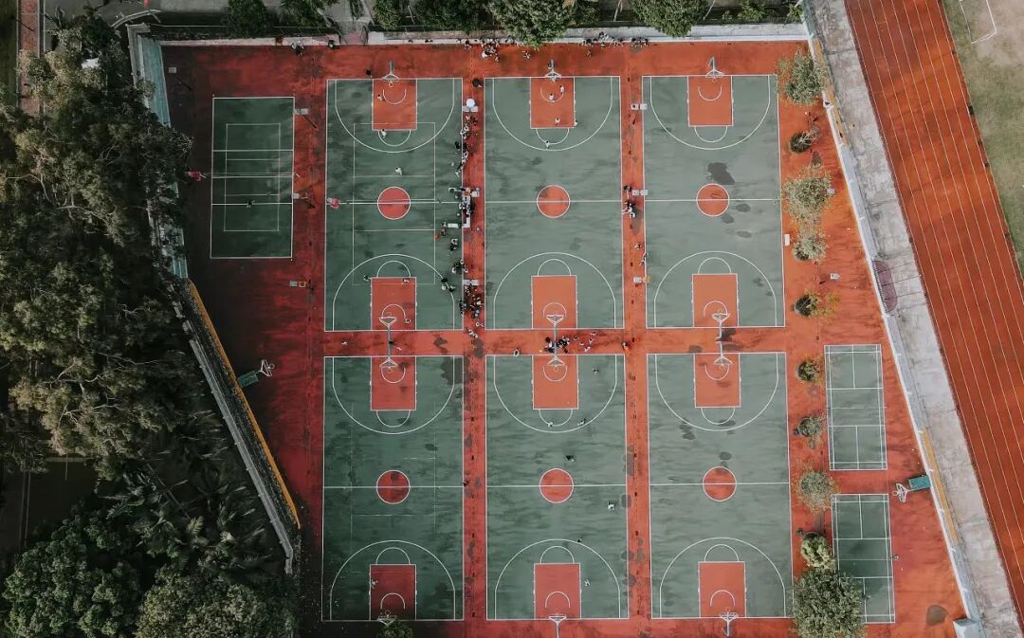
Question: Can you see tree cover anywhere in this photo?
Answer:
Yes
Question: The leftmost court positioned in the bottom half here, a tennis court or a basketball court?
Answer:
basketball court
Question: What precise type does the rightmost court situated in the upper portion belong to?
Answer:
basketball court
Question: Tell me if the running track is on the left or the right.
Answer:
right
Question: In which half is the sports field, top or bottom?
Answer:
top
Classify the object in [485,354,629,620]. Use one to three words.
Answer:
basketball court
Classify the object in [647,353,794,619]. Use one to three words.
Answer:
basketball court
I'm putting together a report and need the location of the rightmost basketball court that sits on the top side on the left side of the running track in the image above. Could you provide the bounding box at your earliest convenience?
[641,75,785,329]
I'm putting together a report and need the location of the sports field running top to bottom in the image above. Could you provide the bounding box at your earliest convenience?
[946,0,1024,271]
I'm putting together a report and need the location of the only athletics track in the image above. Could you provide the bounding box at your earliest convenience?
[845,0,1024,638]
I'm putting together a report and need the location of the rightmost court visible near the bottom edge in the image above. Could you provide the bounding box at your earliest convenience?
[832,493,896,623]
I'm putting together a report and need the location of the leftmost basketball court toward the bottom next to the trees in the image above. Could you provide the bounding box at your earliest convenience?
[322,355,464,621]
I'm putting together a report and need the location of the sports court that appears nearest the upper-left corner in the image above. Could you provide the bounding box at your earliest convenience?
[209,96,294,259]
